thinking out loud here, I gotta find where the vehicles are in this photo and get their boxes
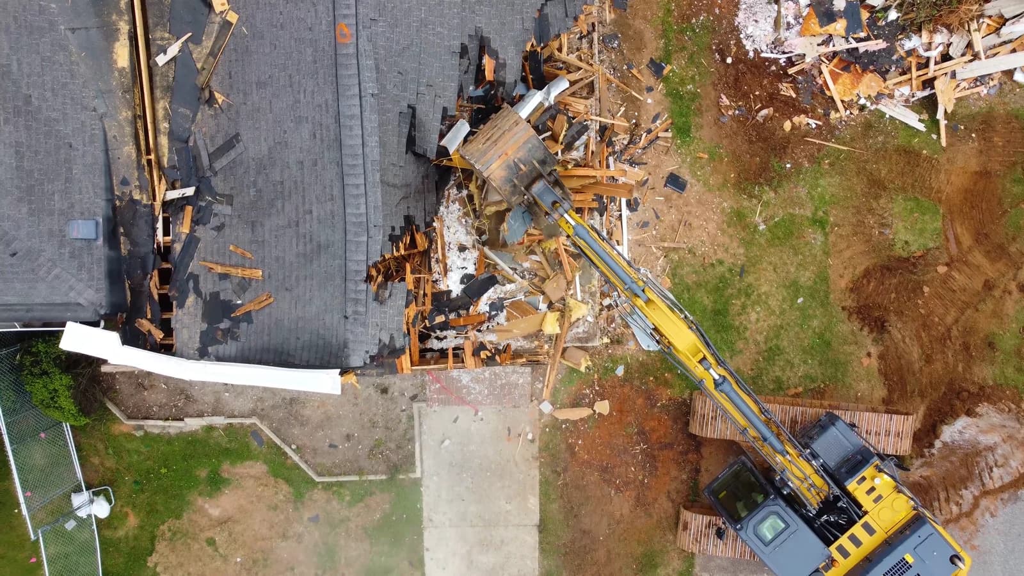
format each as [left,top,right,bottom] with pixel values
[449,105,974,576]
